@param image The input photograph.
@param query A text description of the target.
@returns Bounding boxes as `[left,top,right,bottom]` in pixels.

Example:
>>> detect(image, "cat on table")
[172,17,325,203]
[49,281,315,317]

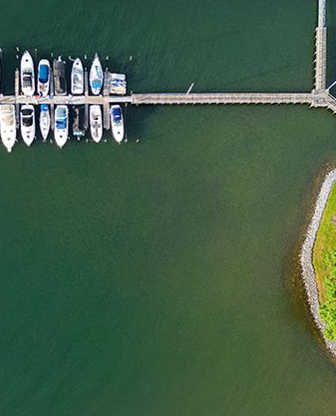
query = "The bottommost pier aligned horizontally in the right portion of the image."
[132,25,336,117]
